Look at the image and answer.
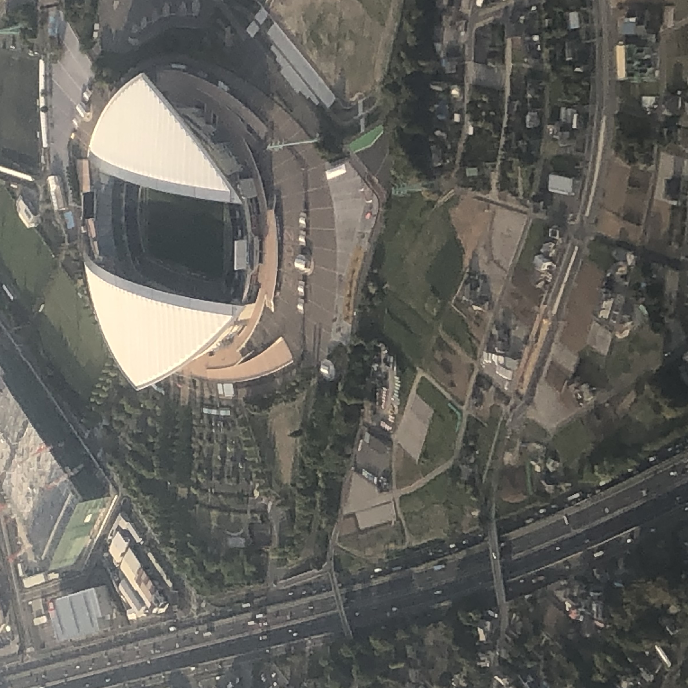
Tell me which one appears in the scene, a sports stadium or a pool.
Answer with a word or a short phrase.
sports stadium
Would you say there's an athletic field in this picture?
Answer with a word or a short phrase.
Yes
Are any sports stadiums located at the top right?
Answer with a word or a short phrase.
No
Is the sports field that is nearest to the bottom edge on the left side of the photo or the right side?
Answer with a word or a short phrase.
left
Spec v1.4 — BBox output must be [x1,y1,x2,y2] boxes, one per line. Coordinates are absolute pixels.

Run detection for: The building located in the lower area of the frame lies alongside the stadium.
[0,377,133,585]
